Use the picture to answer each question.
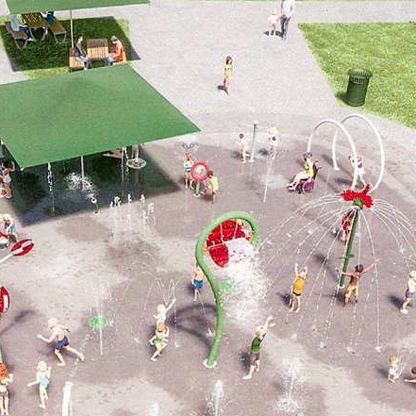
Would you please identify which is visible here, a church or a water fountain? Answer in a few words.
water fountain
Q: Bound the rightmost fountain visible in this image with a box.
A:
[334,174,381,290]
